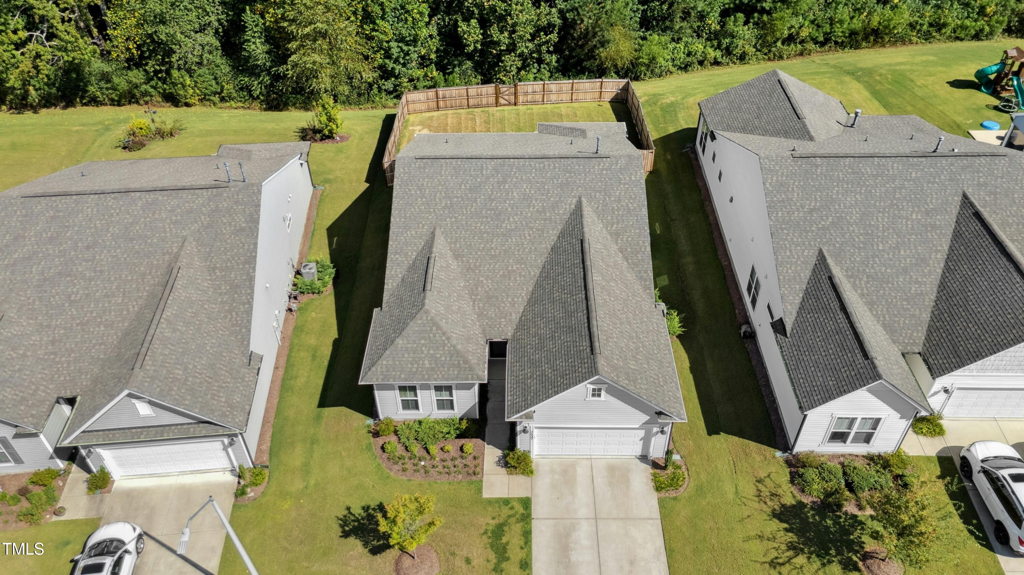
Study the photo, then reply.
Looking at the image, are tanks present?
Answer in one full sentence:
No, no tank is visible in the scene.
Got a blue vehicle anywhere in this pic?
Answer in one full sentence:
No, this view has no blue vehicle in it.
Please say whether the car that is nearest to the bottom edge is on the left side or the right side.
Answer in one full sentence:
The car that is nearest to the bottom edge sits on the left side.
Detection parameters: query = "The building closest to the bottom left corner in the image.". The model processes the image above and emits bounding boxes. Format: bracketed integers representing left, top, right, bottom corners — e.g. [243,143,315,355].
[0,141,317,478]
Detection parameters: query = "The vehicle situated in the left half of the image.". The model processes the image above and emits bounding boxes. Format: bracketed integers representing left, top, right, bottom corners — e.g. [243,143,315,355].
[71,520,142,575]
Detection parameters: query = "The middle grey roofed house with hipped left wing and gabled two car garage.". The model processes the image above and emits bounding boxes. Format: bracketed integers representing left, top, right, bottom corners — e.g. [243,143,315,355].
[357,121,689,457]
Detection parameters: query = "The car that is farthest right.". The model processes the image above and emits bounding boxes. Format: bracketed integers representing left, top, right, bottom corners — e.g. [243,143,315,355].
[965,444,1024,557]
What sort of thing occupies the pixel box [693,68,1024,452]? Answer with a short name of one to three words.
house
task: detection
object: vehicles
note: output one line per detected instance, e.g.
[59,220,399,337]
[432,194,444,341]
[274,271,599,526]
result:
[965,444,1024,557]
[71,520,142,575]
